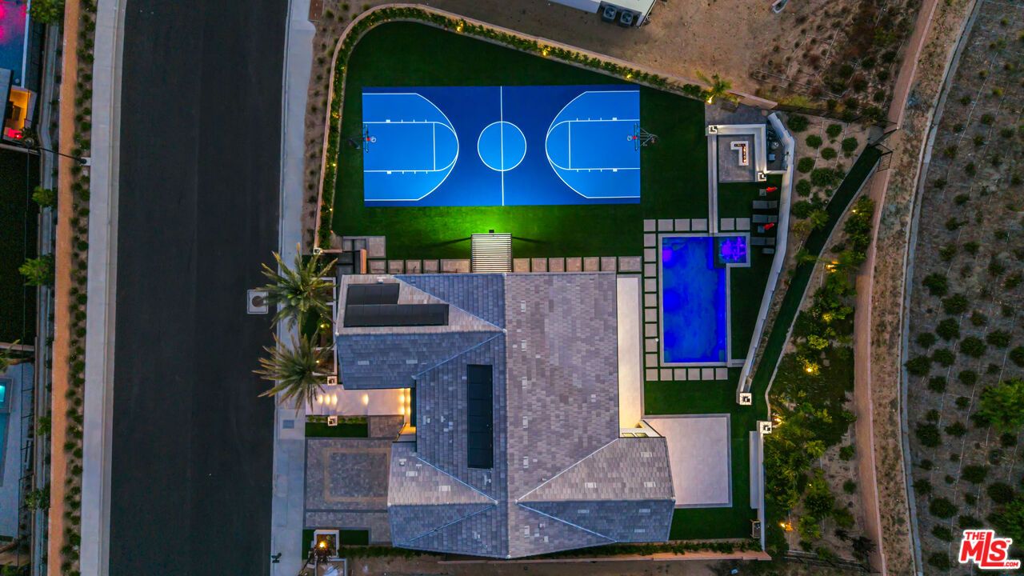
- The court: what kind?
basketball court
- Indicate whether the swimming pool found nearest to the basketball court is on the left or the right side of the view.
right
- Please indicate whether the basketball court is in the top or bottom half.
top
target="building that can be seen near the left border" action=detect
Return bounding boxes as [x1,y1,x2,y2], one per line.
[0,69,36,146]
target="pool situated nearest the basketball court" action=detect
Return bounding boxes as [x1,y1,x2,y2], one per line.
[658,233,751,367]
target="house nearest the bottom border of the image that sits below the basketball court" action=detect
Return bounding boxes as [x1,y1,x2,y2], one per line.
[335,271,677,560]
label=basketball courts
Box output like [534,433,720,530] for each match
[362,85,640,207]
